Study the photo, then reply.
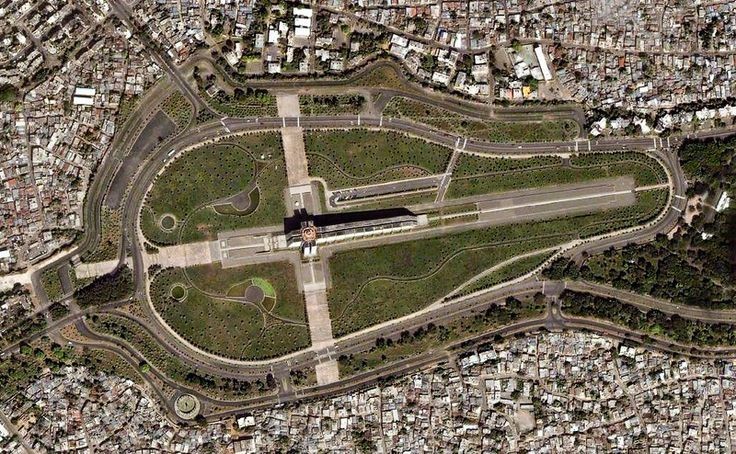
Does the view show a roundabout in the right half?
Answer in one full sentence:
No, in the right half there is no roundabout.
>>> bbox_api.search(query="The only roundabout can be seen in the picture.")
[170,389,204,424]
